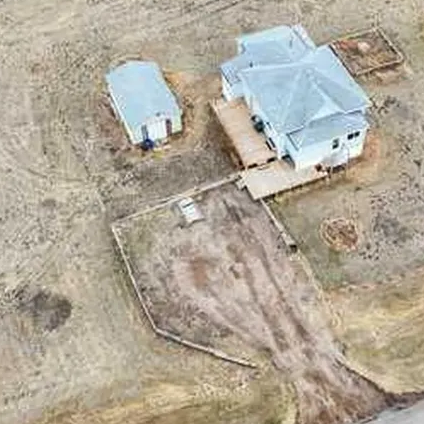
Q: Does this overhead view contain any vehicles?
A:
No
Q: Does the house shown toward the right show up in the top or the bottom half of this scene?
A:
top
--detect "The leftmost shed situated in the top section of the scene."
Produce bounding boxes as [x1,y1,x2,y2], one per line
[105,60,184,143]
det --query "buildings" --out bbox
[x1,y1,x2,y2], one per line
[218,22,375,168]
[105,60,184,143]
